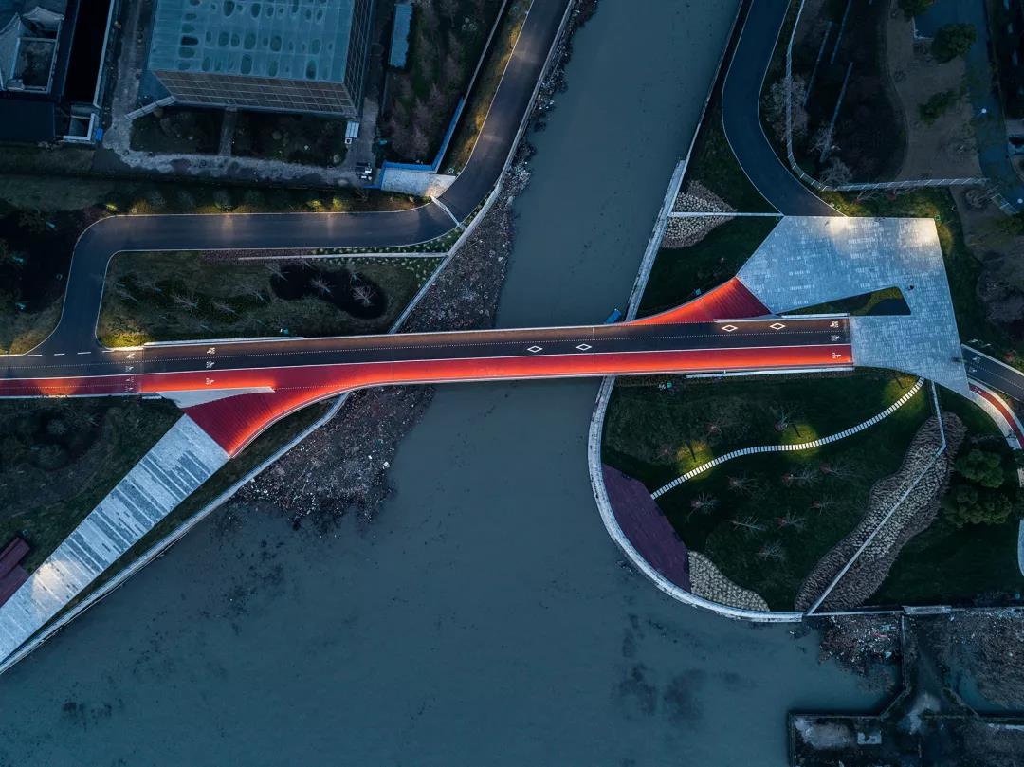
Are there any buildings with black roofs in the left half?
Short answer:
Yes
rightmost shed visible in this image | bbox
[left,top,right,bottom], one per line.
[390,3,415,72]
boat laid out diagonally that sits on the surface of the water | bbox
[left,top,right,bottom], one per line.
[607,308,622,323]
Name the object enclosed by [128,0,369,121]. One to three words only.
building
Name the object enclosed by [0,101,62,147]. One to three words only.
building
